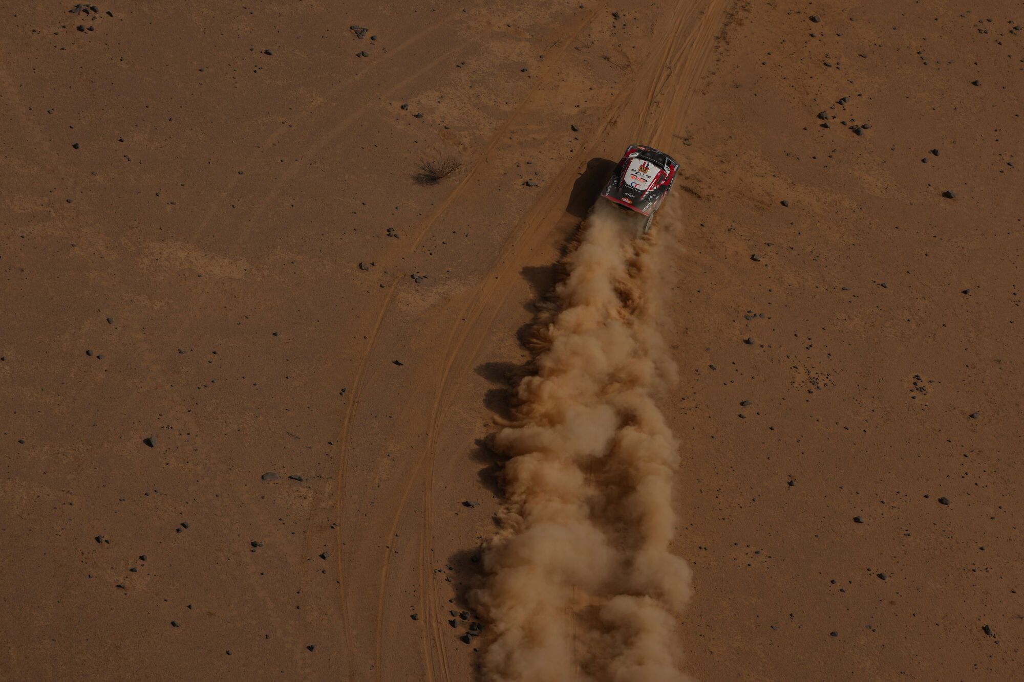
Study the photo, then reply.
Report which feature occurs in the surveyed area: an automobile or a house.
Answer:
automobile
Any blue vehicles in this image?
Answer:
No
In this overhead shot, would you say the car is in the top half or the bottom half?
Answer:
top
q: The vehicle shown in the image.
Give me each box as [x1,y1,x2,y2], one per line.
[596,145,680,235]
